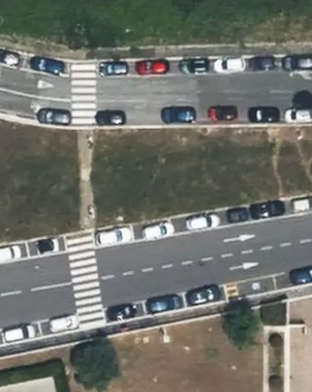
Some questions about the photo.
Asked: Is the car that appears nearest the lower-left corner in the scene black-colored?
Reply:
No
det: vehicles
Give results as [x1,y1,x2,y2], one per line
[186,286,221,304]
[0,243,21,261]
[96,226,131,245]
[162,105,196,124]
[248,55,275,71]
[136,59,169,76]
[99,60,127,77]
[209,105,237,122]
[142,220,173,239]
[29,55,66,75]
[225,205,249,223]
[248,199,285,219]
[289,266,312,285]
[186,212,219,230]
[282,54,312,71]
[95,109,124,126]
[38,107,71,125]
[285,107,312,123]
[48,314,78,333]
[0,48,20,67]
[179,57,209,73]
[106,303,137,320]
[248,105,279,123]
[146,294,183,313]
[35,236,58,253]
[3,323,35,343]
[214,56,245,74]
[290,194,312,213]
